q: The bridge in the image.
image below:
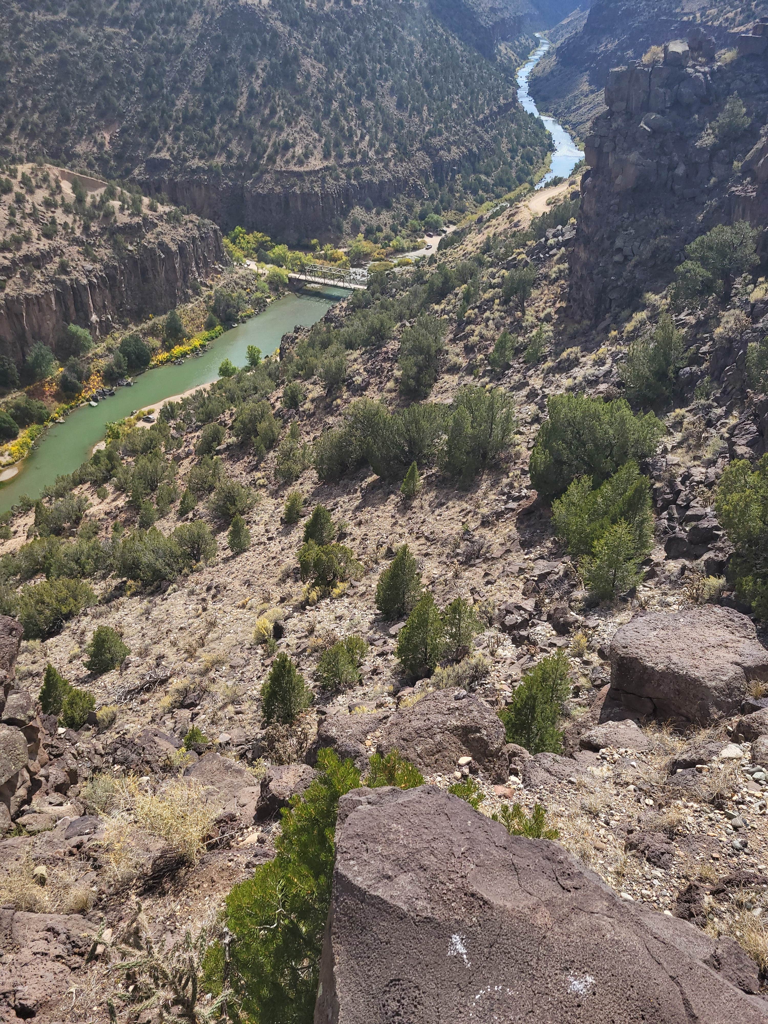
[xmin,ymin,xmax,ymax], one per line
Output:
[276,263,369,299]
